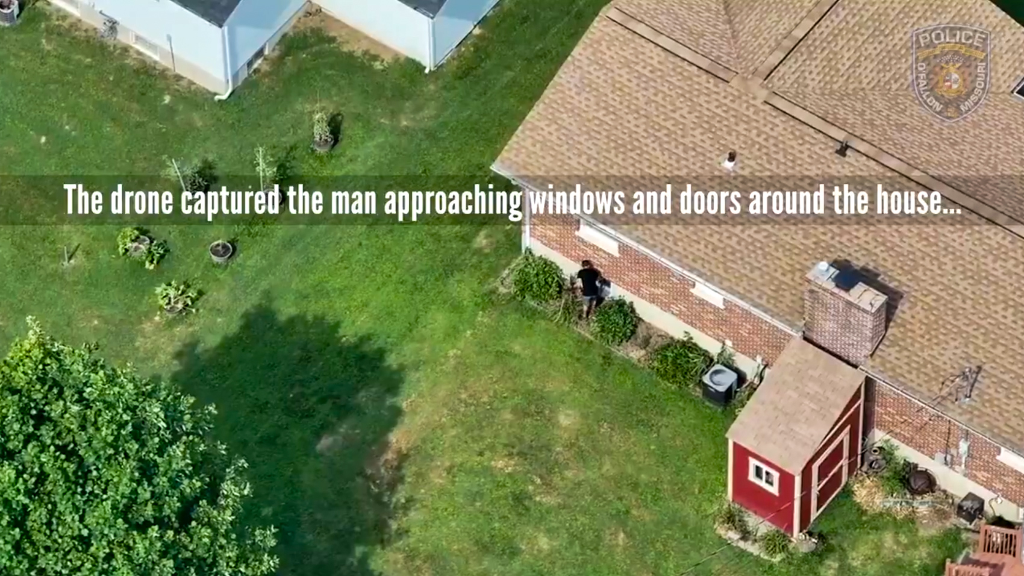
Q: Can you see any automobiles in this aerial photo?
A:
No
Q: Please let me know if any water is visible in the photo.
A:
No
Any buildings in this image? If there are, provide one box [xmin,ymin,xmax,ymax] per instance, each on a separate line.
[491,0,1024,524]
[49,0,500,97]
